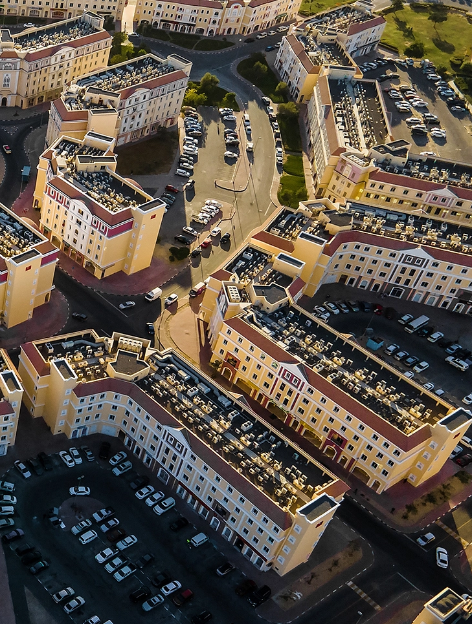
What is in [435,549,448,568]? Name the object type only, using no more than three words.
vehicle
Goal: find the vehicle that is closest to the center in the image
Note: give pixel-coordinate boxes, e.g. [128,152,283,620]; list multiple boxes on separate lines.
[189,282,203,295]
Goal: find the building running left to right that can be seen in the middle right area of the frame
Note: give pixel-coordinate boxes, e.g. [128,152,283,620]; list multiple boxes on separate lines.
[250,198,472,311]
